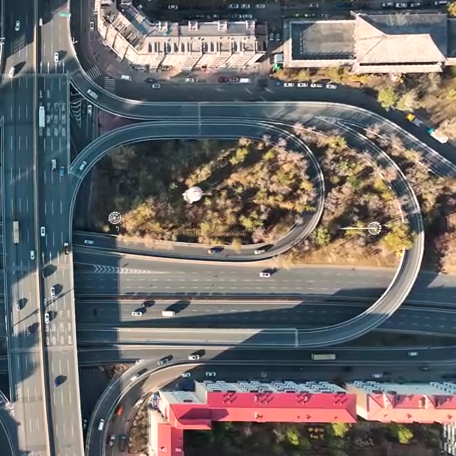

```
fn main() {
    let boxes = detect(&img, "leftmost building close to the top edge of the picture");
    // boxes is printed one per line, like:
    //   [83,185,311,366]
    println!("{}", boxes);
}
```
[87,0,269,71]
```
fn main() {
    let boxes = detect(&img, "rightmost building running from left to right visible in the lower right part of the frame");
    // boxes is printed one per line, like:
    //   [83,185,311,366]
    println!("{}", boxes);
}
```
[335,377,456,423]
